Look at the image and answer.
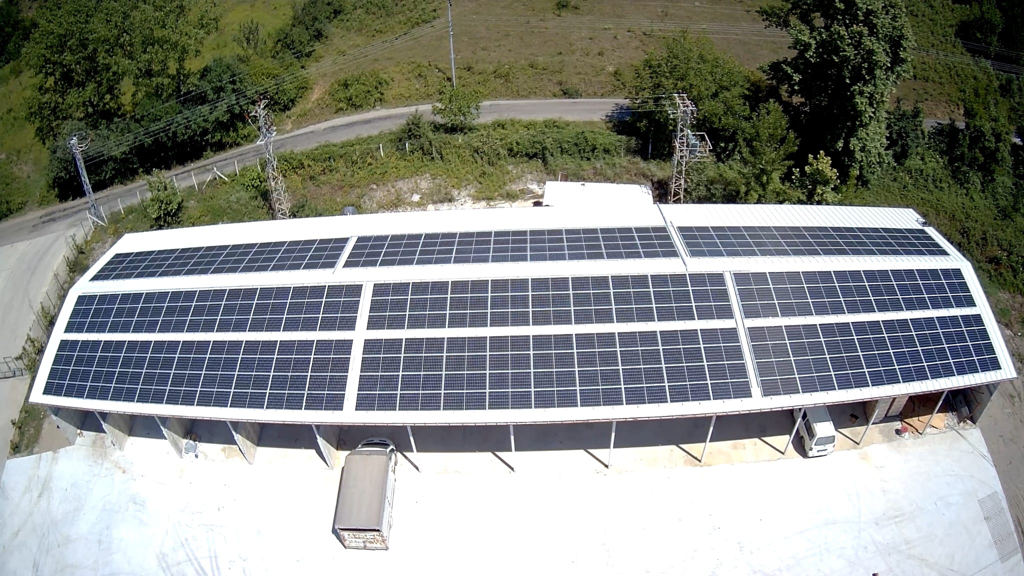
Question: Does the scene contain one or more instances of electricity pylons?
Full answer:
Yes, this view includes an electricity pylon.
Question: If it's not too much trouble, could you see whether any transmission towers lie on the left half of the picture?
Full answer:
Yes, looking on the left half of the picture, one can make out a transmission tower.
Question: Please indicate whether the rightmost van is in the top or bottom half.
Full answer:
It is in the bottom half that the rightmost van appears.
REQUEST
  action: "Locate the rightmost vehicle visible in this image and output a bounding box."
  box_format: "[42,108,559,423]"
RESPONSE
[790,411,837,458]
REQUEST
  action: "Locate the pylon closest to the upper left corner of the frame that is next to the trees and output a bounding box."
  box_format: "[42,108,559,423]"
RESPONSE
[69,129,99,226]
